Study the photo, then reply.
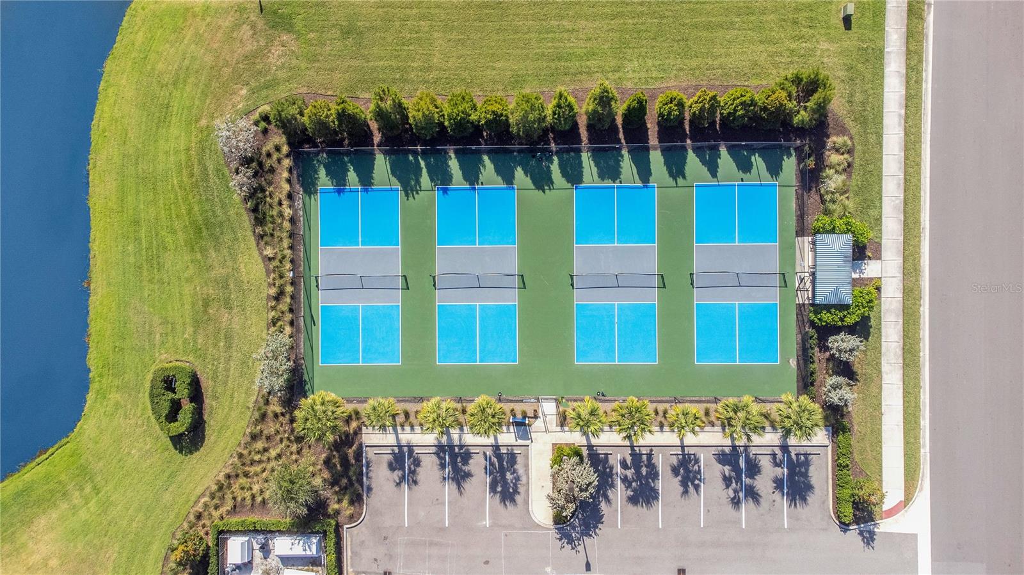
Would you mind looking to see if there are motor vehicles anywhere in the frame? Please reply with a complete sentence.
No, there's no motor vehicle here.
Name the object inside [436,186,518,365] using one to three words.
sports court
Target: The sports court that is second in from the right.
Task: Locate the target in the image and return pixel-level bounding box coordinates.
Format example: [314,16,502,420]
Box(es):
[574,184,658,365]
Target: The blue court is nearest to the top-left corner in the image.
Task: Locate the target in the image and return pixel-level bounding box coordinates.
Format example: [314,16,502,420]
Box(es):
[318,186,402,366]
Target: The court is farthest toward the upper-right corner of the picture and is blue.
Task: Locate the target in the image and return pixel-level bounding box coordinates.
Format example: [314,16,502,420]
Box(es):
[694,182,780,365]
